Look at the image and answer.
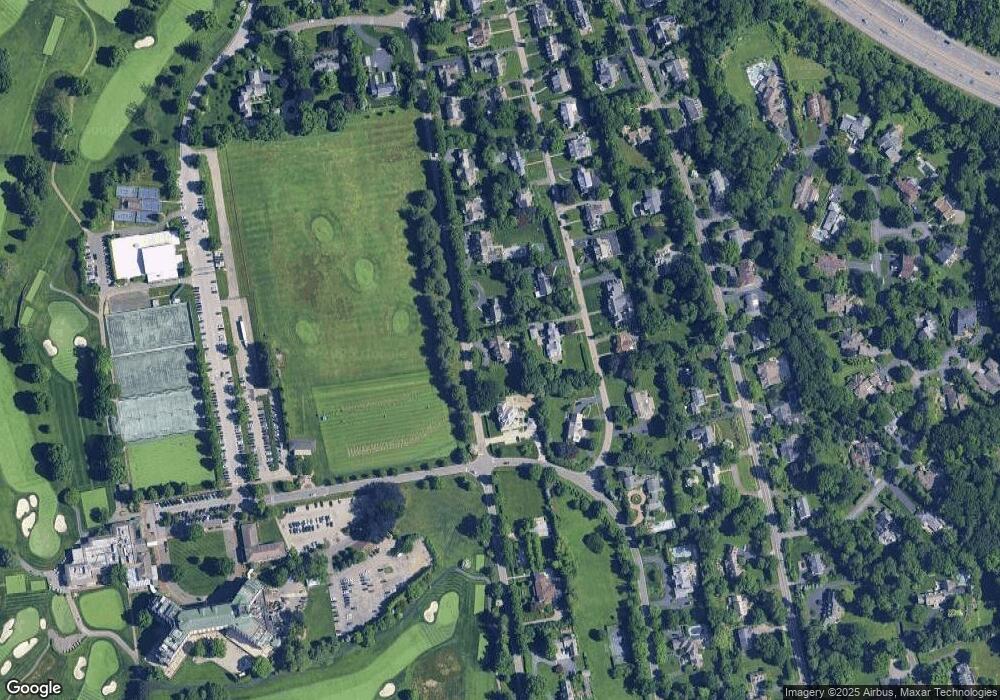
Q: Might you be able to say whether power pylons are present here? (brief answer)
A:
No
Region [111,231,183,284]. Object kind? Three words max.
building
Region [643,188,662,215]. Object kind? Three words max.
house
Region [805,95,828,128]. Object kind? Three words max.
house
